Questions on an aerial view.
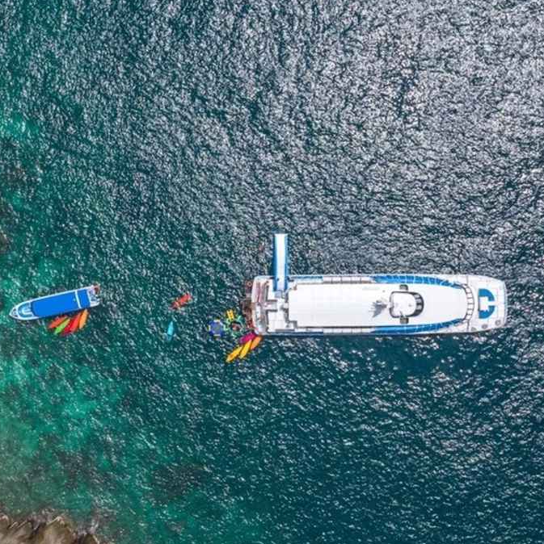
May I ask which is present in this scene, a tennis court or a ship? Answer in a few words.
ship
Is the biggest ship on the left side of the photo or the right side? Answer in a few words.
right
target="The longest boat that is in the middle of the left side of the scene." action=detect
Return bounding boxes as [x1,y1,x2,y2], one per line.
[9,282,105,319]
